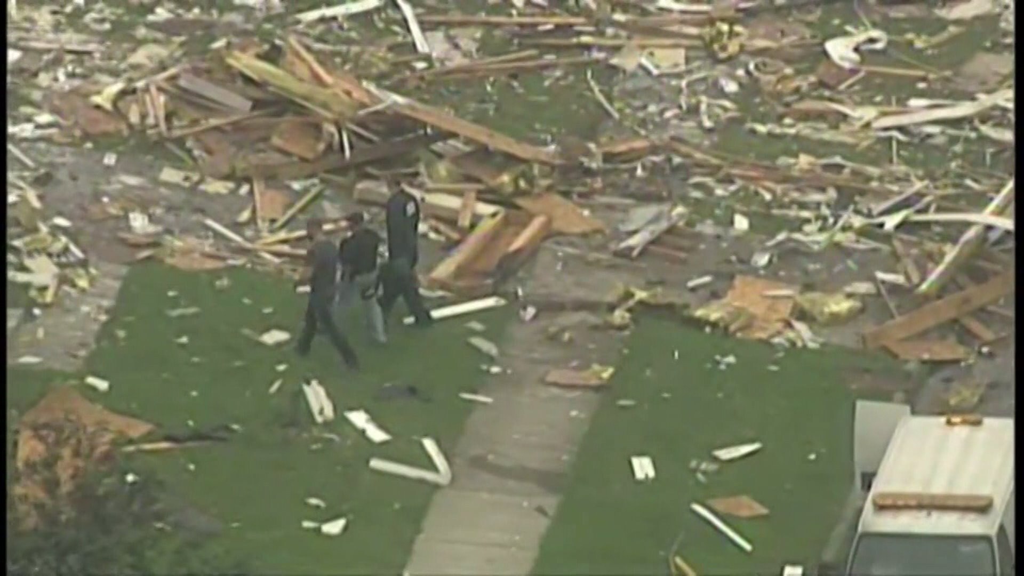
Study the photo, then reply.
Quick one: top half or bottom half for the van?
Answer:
bottom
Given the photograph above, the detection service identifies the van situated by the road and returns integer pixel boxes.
[835,400,1024,576]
